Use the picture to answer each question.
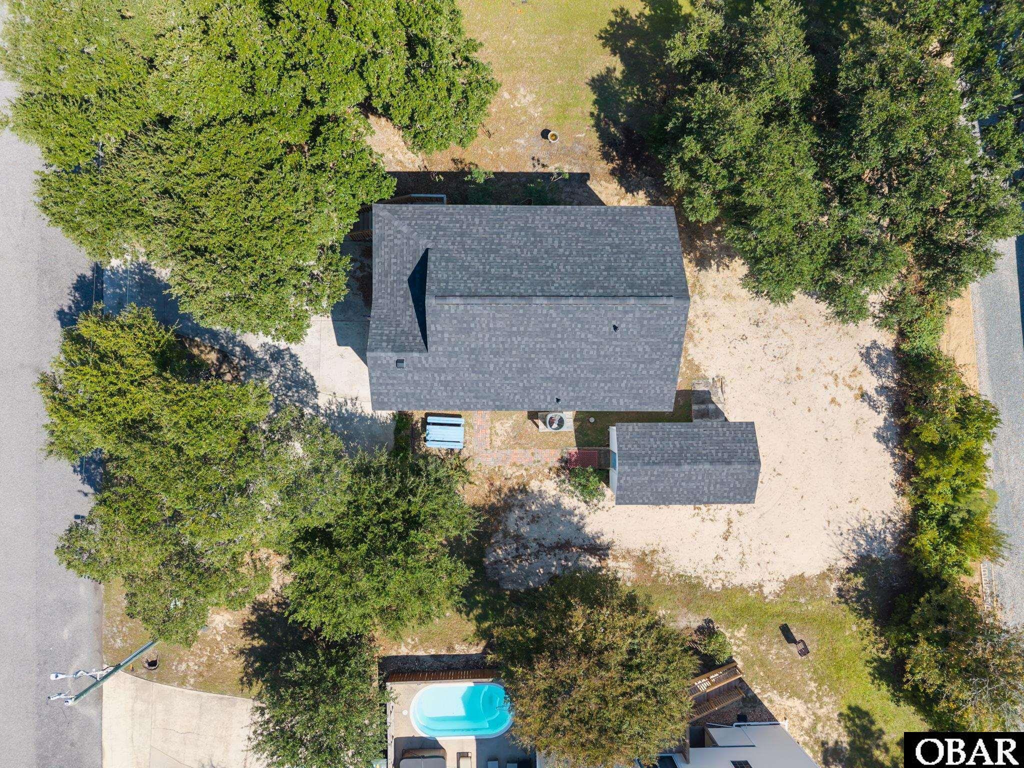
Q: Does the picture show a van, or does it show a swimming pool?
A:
swimming pool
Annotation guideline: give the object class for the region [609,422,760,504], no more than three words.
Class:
shed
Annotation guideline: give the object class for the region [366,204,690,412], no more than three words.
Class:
house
